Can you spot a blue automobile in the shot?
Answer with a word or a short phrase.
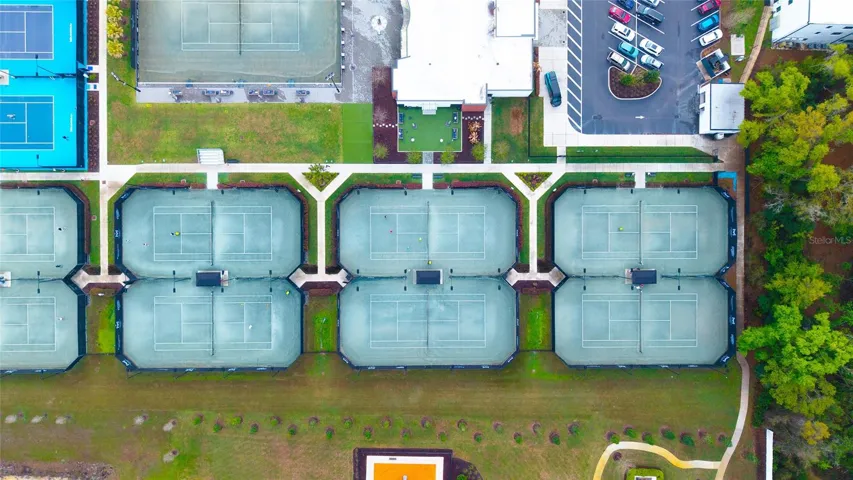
Yes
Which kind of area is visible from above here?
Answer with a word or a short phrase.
sports ground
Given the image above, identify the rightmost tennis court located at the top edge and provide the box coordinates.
[138,0,341,82]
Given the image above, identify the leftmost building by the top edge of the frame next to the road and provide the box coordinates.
[393,0,539,118]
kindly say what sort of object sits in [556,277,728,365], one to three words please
tennis court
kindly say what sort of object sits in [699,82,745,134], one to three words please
shed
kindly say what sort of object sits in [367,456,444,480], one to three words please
sports court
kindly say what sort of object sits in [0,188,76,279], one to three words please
tennis court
